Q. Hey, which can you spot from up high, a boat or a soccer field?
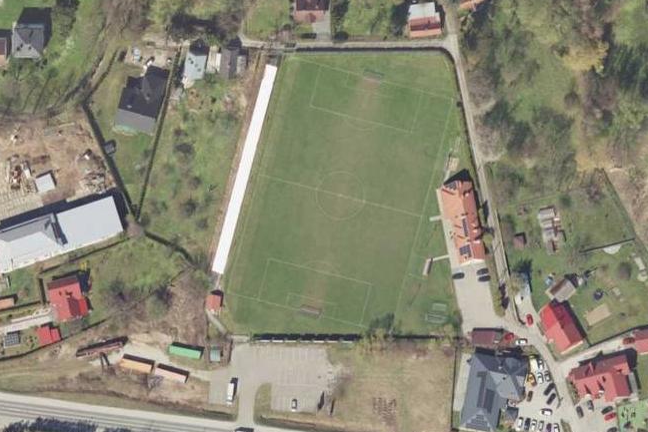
soccer field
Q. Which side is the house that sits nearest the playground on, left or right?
right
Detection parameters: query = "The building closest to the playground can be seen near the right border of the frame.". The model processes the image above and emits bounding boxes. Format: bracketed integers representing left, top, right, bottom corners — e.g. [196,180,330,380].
[571,357,634,401]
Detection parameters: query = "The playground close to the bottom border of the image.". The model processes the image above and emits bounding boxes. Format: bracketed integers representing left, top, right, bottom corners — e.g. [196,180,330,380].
[618,400,648,432]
